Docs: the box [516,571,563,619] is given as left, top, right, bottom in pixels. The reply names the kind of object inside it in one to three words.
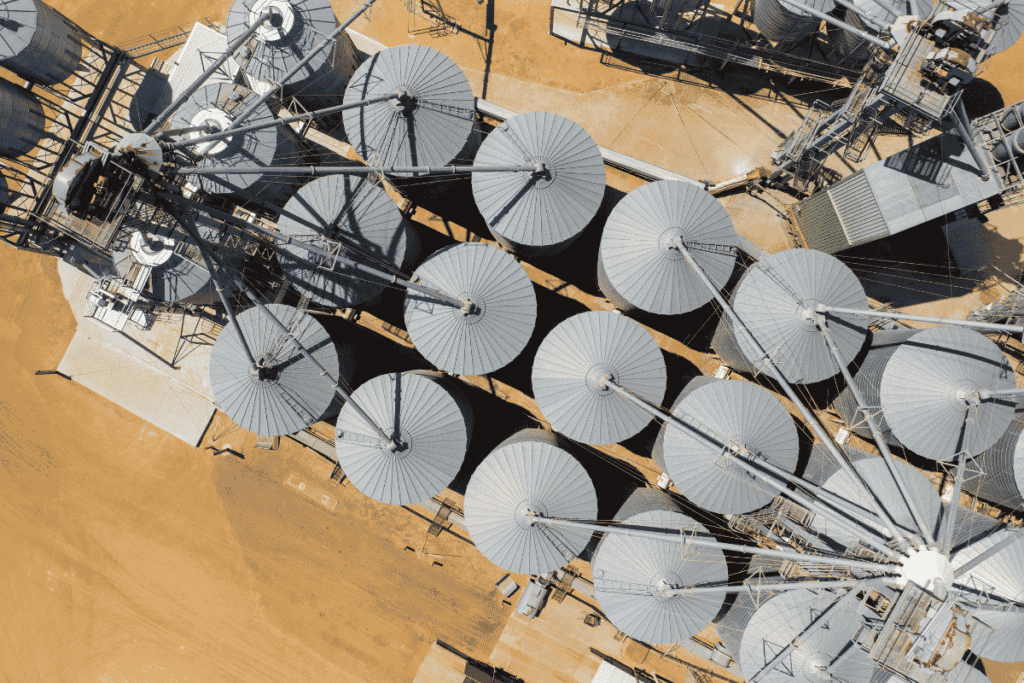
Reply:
storage tank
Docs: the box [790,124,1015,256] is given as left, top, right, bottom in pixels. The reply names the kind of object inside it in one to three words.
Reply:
shed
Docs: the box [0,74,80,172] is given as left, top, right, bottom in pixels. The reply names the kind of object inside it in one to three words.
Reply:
silo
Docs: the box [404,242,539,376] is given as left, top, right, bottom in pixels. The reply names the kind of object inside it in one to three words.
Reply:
silo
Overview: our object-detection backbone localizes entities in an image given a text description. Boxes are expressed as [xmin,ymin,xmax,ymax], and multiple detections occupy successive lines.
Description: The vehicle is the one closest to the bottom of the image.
[575,612,604,633]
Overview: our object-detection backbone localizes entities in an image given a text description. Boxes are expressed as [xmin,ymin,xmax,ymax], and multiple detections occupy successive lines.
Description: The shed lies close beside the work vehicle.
[586,645,665,683]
